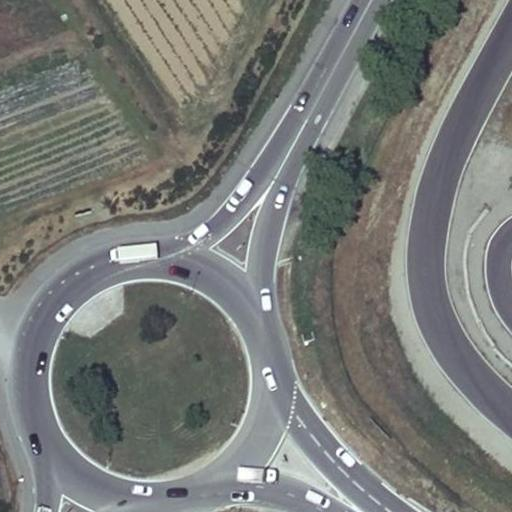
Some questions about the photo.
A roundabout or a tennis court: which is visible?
roundabout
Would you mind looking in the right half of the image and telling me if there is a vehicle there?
Yes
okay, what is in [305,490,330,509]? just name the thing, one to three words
vehicle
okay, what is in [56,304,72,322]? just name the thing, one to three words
car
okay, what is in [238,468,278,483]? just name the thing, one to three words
vehicle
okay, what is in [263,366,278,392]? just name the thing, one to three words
car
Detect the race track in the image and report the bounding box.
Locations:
[406,0,512,438]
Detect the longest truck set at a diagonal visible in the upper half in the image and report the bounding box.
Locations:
[228,178,253,213]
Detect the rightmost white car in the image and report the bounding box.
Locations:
[334,448,354,468]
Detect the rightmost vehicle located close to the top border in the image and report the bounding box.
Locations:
[342,4,357,26]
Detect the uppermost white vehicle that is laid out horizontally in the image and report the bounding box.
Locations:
[110,243,159,264]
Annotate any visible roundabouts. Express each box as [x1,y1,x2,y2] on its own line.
[25,254,277,506]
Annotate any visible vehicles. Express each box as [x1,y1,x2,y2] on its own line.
[132,486,152,496]
[30,433,41,455]
[228,178,253,213]
[167,487,188,498]
[295,91,310,112]
[334,448,354,468]
[36,352,47,376]
[169,266,190,279]
[110,243,159,264]
[260,288,272,312]
[56,304,72,322]
[305,490,330,509]
[188,224,208,244]
[232,491,254,502]
[263,366,278,392]
[238,468,278,483]
[342,4,357,26]
[274,186,288,210]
